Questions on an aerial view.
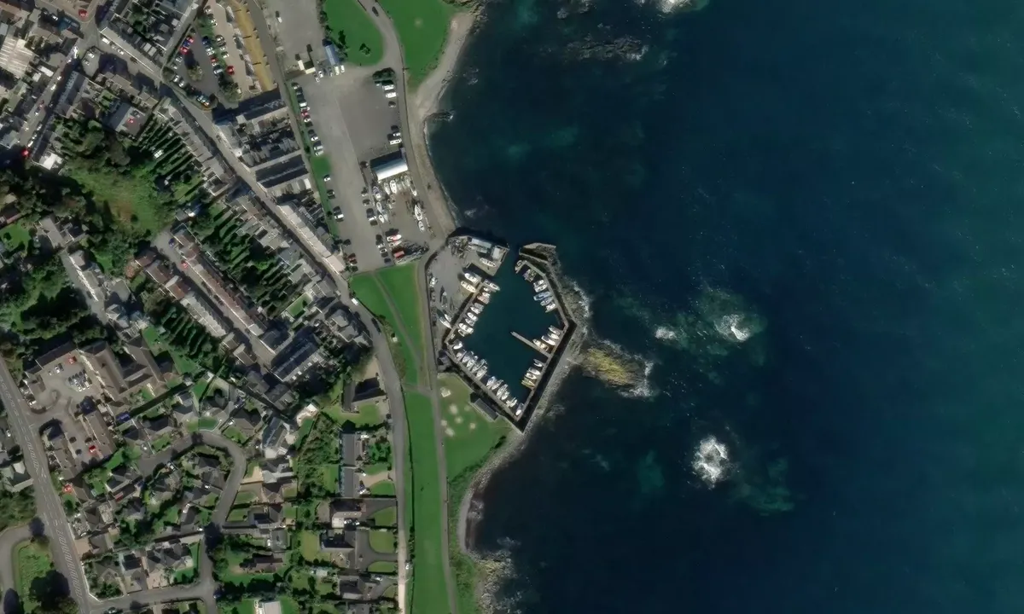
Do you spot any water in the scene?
Yes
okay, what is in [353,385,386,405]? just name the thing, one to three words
house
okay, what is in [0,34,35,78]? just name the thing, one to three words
shed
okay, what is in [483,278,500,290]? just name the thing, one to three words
boat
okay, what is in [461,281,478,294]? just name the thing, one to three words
boat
